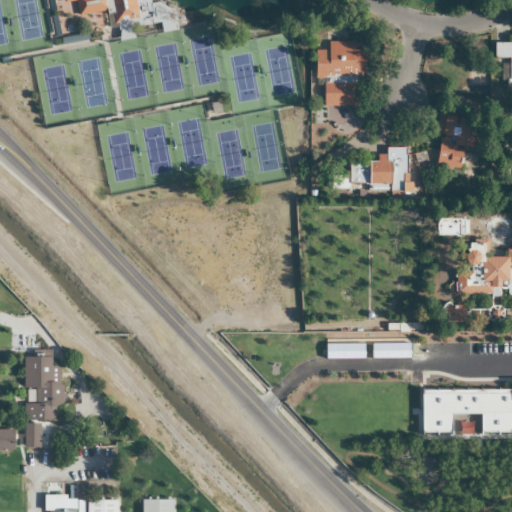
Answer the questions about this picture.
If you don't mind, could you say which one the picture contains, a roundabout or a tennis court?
tennis court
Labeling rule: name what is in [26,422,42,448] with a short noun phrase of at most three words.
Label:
building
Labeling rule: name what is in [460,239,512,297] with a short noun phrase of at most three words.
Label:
house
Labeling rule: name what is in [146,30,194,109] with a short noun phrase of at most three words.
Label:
tennis court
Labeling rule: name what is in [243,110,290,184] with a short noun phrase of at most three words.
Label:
tennis court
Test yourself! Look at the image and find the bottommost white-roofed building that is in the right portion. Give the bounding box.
[424,388,512,435]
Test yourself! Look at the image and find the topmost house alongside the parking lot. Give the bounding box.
[25,350,66,421]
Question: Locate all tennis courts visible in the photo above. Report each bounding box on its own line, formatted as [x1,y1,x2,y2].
[110,36,159,116]
[146,30,194,109]
[223,39,269,114]
[98,118,146,193]
[207,115,255,191]
[182,26,230,102]
[169,105,216,182]
[8,0,53,52]
[256,34,296,108]
[70,44,116,122]
[33,50,82,128]
[243,110,290,184]
[134,112,181,188]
